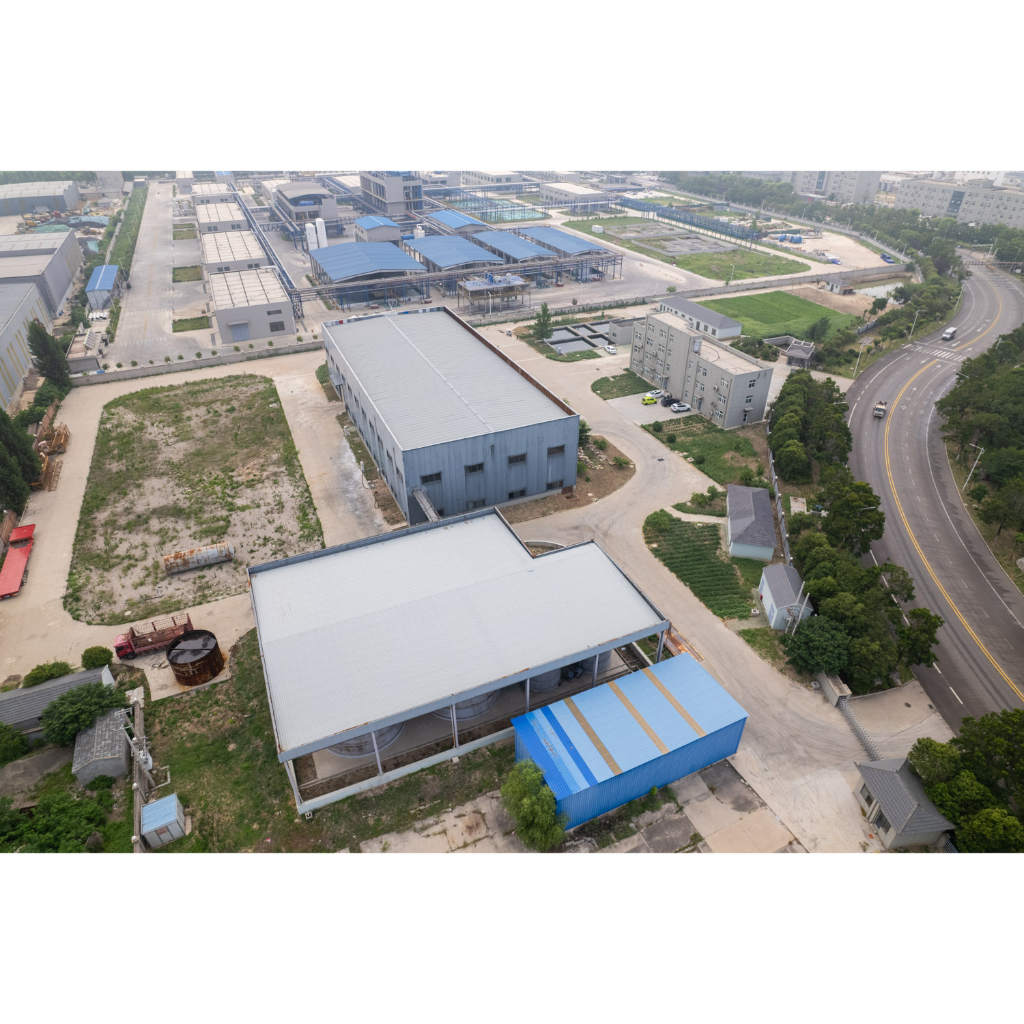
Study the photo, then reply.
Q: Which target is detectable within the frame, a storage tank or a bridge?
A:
storage tank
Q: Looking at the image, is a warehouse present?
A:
Yes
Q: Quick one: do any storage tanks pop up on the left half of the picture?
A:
Yes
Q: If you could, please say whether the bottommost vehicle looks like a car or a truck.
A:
truck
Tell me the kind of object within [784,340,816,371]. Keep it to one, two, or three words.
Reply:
building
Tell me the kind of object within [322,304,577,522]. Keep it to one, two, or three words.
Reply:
warehouse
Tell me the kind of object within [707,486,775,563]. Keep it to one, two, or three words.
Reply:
house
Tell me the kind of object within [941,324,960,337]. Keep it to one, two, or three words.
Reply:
vehicle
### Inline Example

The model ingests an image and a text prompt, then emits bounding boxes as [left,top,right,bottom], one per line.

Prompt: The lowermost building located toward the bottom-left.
[141,793,193,847]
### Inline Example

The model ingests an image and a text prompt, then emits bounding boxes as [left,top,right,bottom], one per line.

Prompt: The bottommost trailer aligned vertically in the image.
[0,521,36,604]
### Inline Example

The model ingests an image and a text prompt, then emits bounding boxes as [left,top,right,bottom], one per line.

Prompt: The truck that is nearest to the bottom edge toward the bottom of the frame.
[113,602,200,660]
